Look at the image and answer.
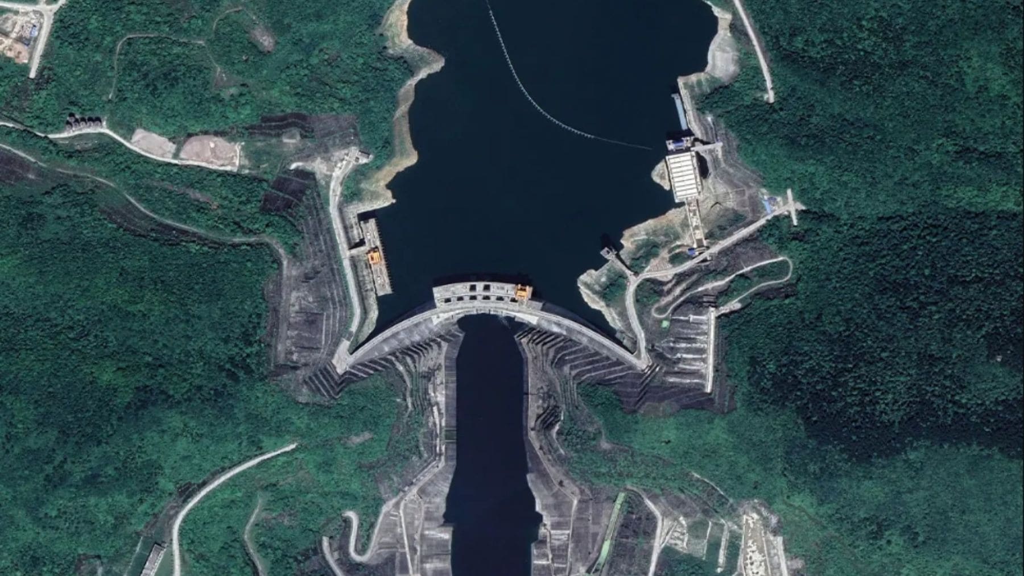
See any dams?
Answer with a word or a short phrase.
Yes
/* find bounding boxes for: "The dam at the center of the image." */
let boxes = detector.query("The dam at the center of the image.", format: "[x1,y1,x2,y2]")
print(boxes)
[343,282,645,373]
